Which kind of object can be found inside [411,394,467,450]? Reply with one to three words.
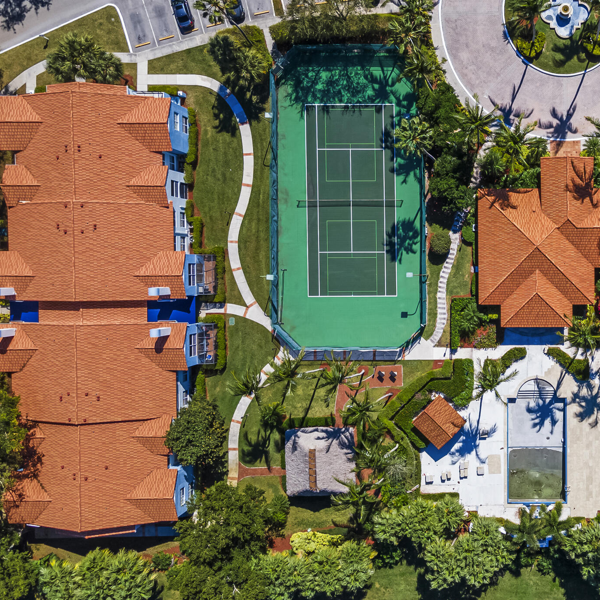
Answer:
building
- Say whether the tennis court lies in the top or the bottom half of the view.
top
